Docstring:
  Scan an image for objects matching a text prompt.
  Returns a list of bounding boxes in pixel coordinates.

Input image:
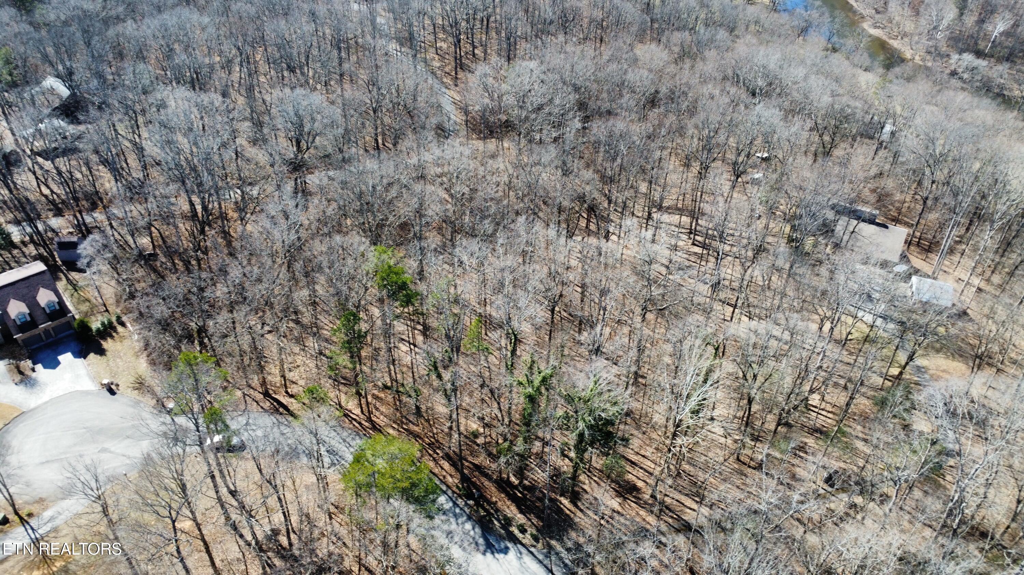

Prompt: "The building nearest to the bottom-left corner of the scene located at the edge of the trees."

[0,258,74,354]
